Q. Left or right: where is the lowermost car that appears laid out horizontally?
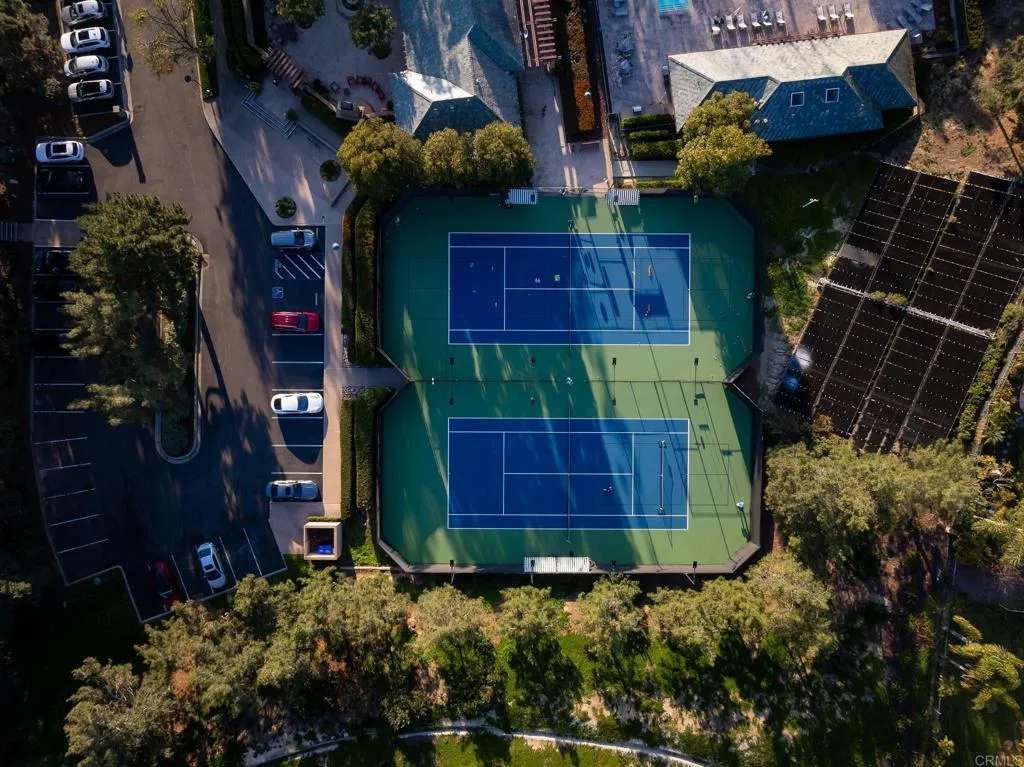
left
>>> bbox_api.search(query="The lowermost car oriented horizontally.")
[268,479,318,501]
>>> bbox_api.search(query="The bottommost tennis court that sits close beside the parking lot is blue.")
[380,382,752,564]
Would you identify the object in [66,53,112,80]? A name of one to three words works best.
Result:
car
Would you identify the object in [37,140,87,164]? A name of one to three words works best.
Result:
car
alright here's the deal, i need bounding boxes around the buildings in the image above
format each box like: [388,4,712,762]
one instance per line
[668,28,918,140]
[390,0,524,146]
